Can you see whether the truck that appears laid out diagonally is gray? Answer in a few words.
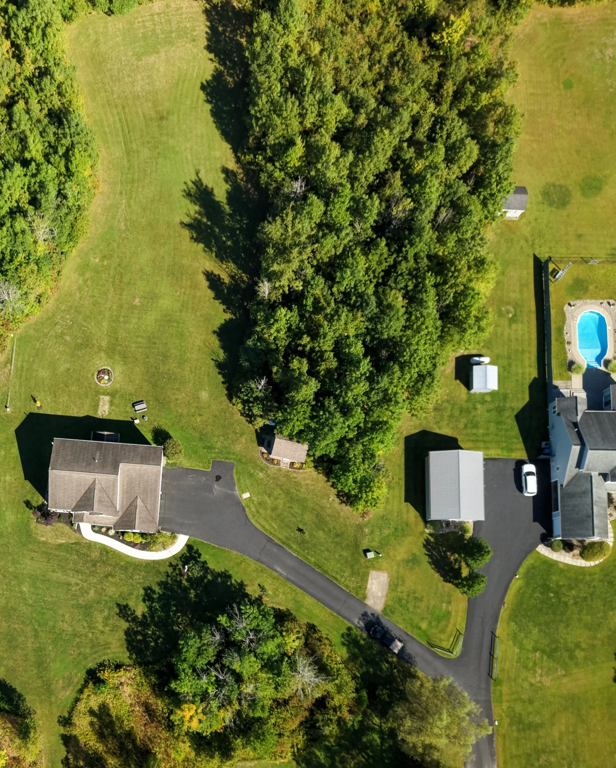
No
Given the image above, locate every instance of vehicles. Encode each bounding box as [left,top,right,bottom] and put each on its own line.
[366,619,406,655]
[522,465,540,497]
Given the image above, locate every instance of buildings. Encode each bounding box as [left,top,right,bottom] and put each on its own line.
[550,385,616,540]
[46,431,165,534]
[271,432,309,462]
[470,365,499,392]
[425,450,485,521]
[503,186,533,218]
